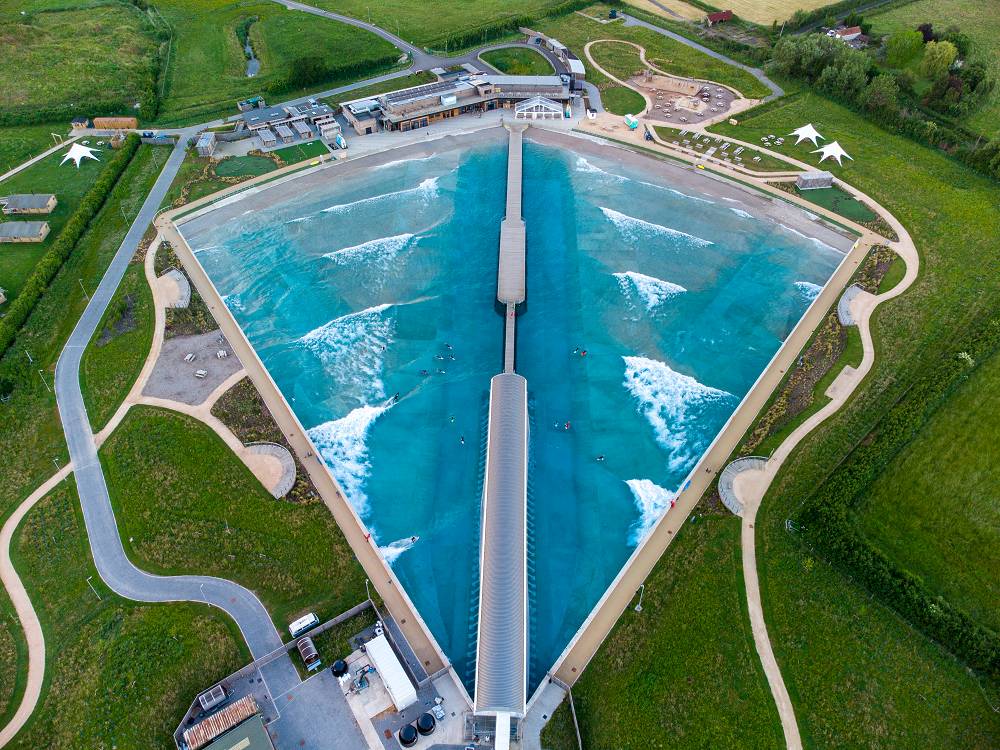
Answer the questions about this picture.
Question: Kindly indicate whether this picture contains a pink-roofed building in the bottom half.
No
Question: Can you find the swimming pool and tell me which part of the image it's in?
center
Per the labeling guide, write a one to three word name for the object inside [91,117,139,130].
building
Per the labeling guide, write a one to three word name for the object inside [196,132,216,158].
shed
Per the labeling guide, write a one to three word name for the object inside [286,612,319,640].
camper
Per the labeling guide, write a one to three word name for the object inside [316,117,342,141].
building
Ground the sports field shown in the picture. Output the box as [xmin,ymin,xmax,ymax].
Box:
[271,140,329,166]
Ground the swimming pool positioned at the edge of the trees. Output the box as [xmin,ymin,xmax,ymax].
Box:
[170,125,862,714]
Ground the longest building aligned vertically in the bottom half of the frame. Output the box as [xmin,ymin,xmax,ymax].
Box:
[468,372,533,719]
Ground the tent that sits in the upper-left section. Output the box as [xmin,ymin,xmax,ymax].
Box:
[60,141,103,168]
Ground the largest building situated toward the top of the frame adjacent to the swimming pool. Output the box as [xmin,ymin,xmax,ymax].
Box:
[339,63,571,135]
